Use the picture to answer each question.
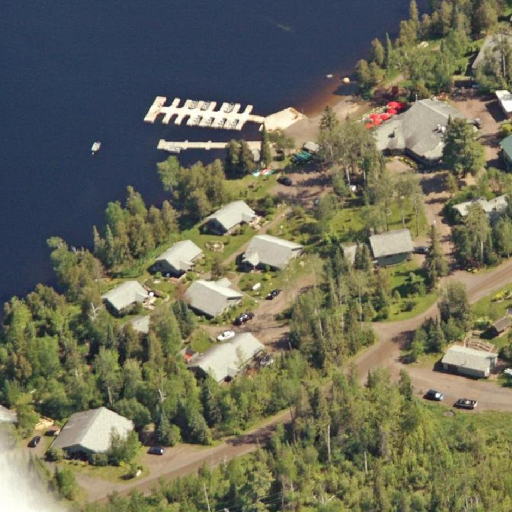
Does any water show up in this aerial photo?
Yes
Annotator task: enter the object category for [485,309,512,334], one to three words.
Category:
shed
